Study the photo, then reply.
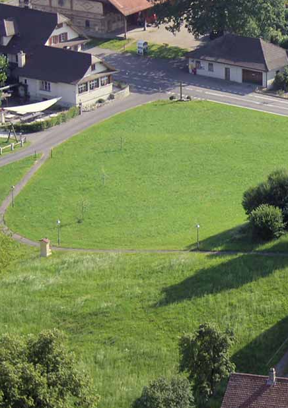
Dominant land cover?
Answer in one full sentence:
For the most part, this view shows grass.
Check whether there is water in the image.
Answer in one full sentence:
No, the picture contains no water.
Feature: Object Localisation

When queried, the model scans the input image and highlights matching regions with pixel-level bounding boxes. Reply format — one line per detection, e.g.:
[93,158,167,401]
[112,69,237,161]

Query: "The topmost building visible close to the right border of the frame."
[184,31,288,87]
